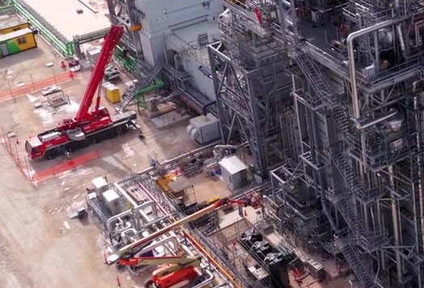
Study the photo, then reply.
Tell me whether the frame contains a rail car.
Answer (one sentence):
No, there isn't any rail car down there.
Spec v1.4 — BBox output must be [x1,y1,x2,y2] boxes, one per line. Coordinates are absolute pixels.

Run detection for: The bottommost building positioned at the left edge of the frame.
[0,24,36,57]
